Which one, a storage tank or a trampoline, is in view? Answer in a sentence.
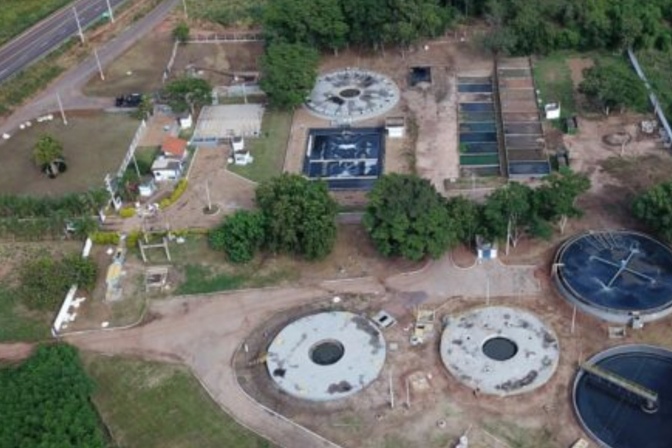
Of the two, only a storage tank appears.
